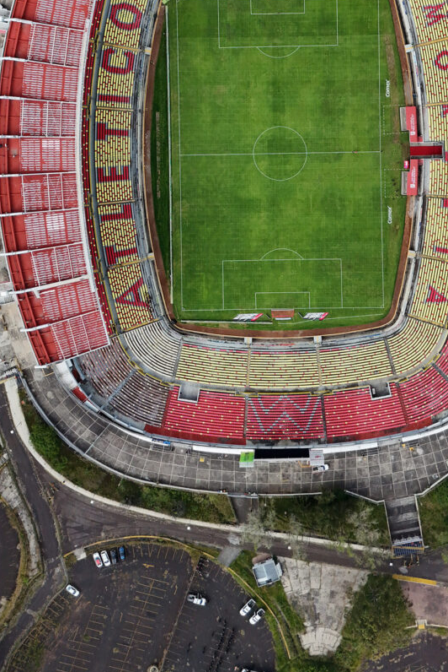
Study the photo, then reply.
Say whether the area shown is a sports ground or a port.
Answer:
sports ground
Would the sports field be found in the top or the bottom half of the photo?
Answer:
top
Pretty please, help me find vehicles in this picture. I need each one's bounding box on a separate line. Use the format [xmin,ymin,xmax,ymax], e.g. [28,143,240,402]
[108,551,116,566]
[92,554,101,569]
[100,552,109,568]
[188,596,205,606]
[117,548,125,562]
[313,464,330,473]
[65,586,78,598]
[251,610,265,627]
[241,601,255,617]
